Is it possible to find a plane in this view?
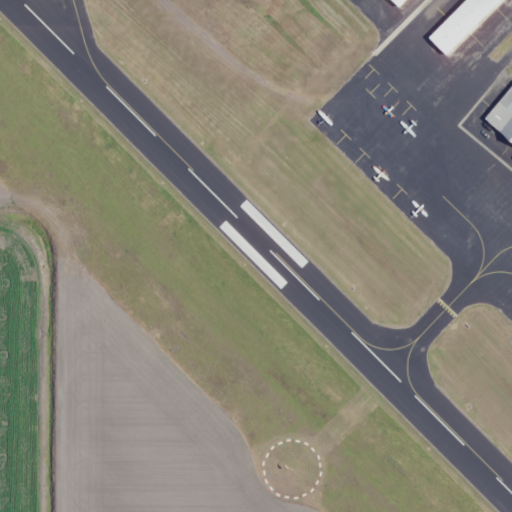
Yes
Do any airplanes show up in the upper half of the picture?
Yes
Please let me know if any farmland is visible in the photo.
Yes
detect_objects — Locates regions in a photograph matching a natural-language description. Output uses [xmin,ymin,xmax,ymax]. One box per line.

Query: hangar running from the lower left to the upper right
[428,0,505,57]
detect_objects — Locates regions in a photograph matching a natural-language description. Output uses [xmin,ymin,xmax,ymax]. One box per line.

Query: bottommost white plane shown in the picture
[412,200,428,217]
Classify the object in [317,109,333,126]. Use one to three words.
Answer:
airplane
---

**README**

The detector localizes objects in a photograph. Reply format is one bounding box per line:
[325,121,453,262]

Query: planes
[382,104,395,118]
[372,165,389,182]
[400,120,418,137]
[412,200,428,217]
[317,109,333,126]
